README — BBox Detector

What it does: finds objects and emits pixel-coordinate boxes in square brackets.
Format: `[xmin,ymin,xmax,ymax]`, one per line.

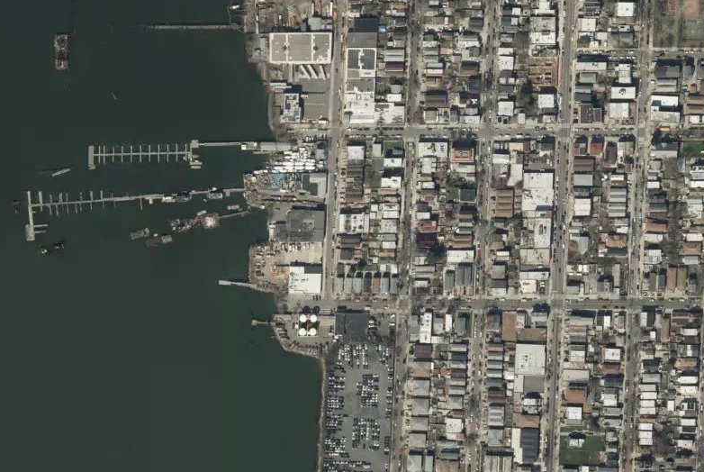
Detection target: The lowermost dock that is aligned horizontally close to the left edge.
[26,188,247,241]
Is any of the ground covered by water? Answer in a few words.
Yes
